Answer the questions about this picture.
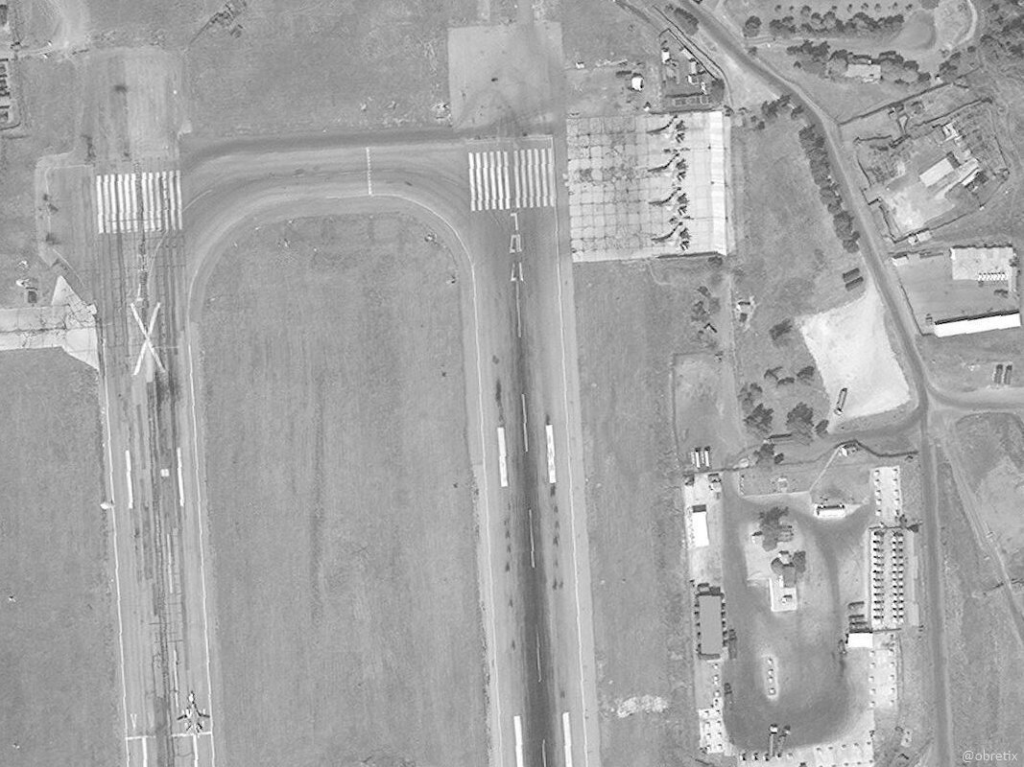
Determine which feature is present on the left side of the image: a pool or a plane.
plane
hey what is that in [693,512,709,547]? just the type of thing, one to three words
building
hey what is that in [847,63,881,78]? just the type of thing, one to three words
house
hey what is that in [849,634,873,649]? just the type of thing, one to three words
building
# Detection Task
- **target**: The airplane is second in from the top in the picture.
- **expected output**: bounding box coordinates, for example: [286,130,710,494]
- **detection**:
[649,158,690,187]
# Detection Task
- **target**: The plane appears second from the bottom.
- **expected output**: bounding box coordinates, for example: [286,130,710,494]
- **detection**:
[652,227,693,256]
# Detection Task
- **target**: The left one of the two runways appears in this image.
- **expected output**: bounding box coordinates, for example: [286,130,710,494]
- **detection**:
[88,164,225,767]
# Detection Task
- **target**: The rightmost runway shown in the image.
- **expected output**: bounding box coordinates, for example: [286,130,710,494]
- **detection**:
[461,128,601,767]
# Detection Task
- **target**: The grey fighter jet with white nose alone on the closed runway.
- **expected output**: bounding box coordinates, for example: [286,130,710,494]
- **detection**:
[180,696,211,735]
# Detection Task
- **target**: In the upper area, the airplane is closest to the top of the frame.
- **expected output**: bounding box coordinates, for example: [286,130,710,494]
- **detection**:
[647,120,689,149]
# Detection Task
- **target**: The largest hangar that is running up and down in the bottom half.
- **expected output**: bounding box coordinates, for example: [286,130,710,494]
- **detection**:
[696,596,724,655]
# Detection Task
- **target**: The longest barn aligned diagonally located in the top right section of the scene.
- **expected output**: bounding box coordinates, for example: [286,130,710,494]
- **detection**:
[921,158,954,186]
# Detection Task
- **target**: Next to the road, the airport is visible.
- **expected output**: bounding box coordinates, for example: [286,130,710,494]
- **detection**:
[0,22,727,767]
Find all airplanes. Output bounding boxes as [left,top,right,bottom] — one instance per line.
[647,120,689,149]
[652,227,693,256]
[649,158,690,187]
[651,191,690,220]
[180,696,211,735]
